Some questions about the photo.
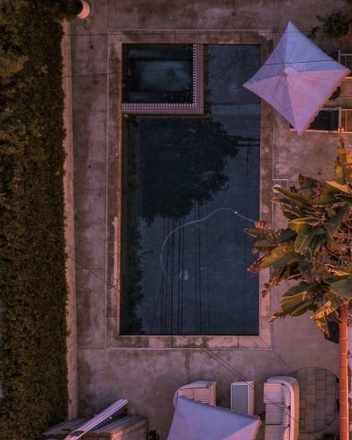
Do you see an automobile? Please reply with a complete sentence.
No, no automobile can be seen from above.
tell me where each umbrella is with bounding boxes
[171,393,264,440]
[243,22,352,135]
